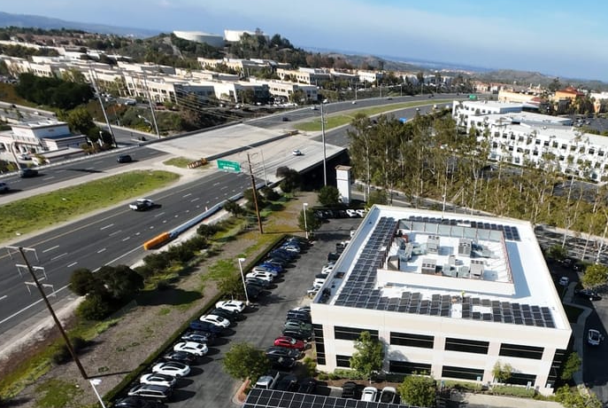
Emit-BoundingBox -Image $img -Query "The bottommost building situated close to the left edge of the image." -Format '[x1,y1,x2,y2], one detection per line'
[0,126,82,162]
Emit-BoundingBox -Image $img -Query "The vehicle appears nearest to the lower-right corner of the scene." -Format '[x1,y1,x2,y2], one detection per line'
[587,330,605,345]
